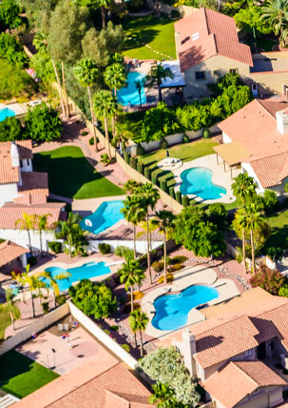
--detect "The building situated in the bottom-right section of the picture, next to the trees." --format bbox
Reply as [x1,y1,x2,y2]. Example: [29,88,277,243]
[177,288,288,408]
